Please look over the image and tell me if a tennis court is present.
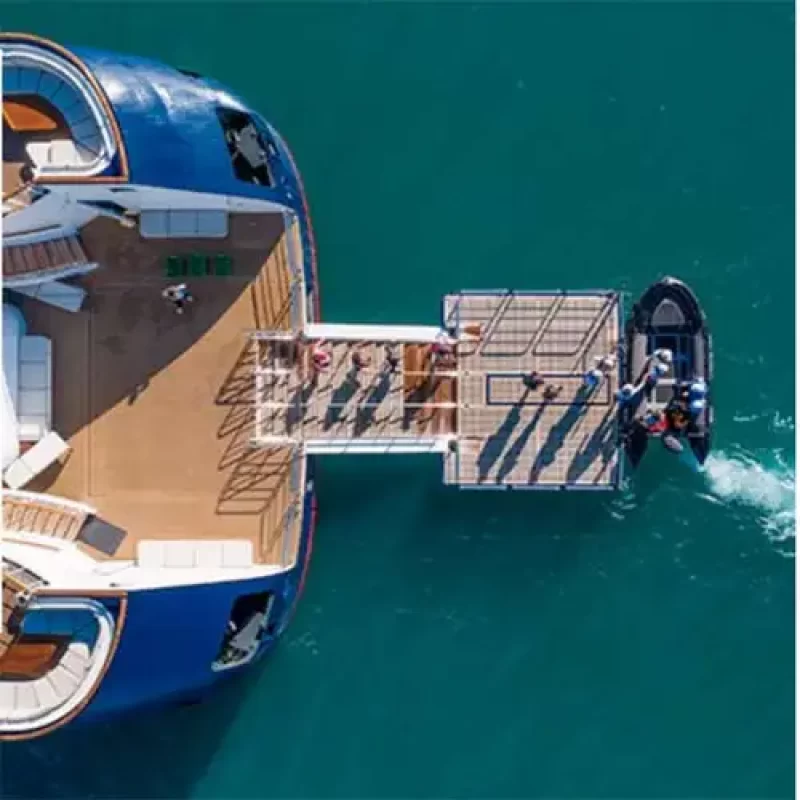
No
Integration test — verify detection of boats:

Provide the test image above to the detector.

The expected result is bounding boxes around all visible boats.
[629,275,712,467]
[0,36,322,740]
